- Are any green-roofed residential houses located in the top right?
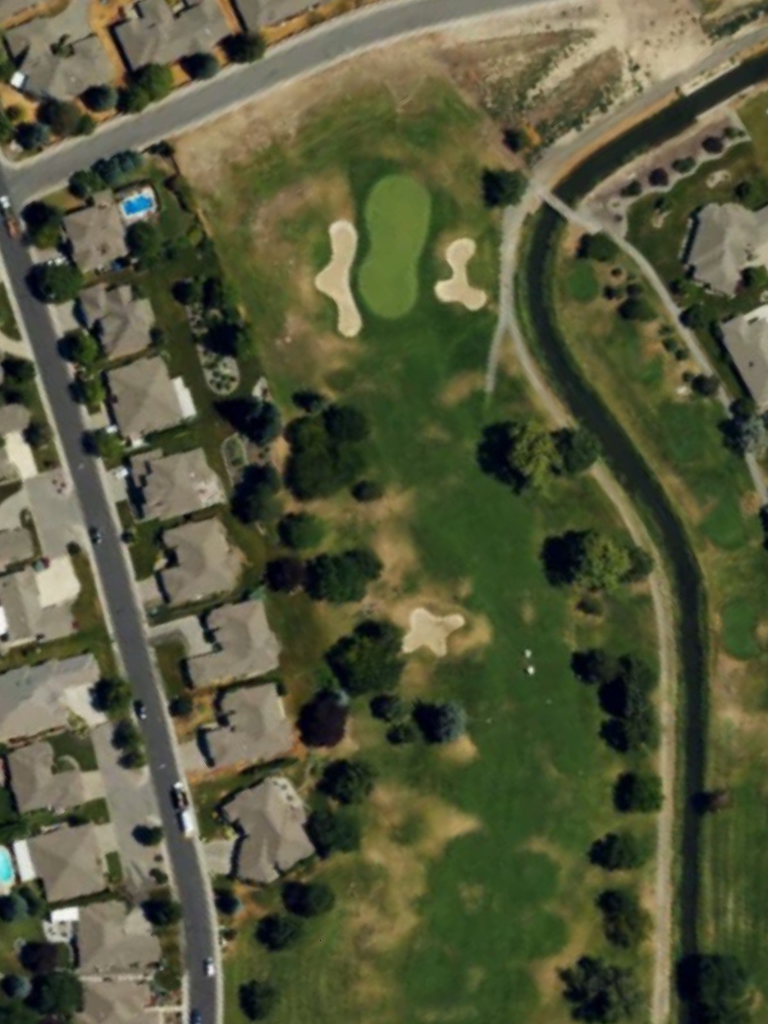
No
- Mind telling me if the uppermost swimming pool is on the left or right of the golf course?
on the left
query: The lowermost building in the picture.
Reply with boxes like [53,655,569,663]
[78,979,152,1024]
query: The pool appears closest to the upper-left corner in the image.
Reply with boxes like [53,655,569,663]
[119,190,158,220]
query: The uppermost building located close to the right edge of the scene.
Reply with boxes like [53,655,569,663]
[685,200,768,300]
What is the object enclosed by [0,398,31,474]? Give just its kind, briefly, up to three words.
house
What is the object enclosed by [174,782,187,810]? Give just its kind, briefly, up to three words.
vehicle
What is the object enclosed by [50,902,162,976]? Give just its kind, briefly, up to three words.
house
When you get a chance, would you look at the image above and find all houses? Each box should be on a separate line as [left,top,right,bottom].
[244,0,328,28]
[78,278,157,361]
[221,781,316,885]
[1,743,86,815]
[199,684,292,767]
[117,0,231,71]
[156,518,244,602]
[185,602,280,687]
[13,822,108,904]
[105,357,193,442]
[129,446,223,521]
[64,185,128,273]
[0,649,102,741]
[0,566,80,650]
[78,979,152,1024]
[50,902,162,976]
[0,26,119,101]
[0,494,36,565]
[722,296,768,414]
[0,398,31,474]
[685,200,768,300]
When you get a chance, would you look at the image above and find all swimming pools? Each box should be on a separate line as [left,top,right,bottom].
[0,840,18,893]
[119,190,158,220]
